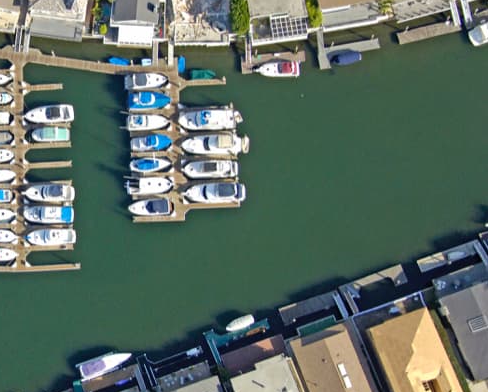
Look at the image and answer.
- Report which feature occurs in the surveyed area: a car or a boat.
boat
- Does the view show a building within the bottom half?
Yes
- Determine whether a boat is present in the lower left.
Yes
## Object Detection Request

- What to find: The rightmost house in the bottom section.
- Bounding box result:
[427,274,488,382]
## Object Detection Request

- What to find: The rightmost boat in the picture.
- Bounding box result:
[469,21,488,42]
